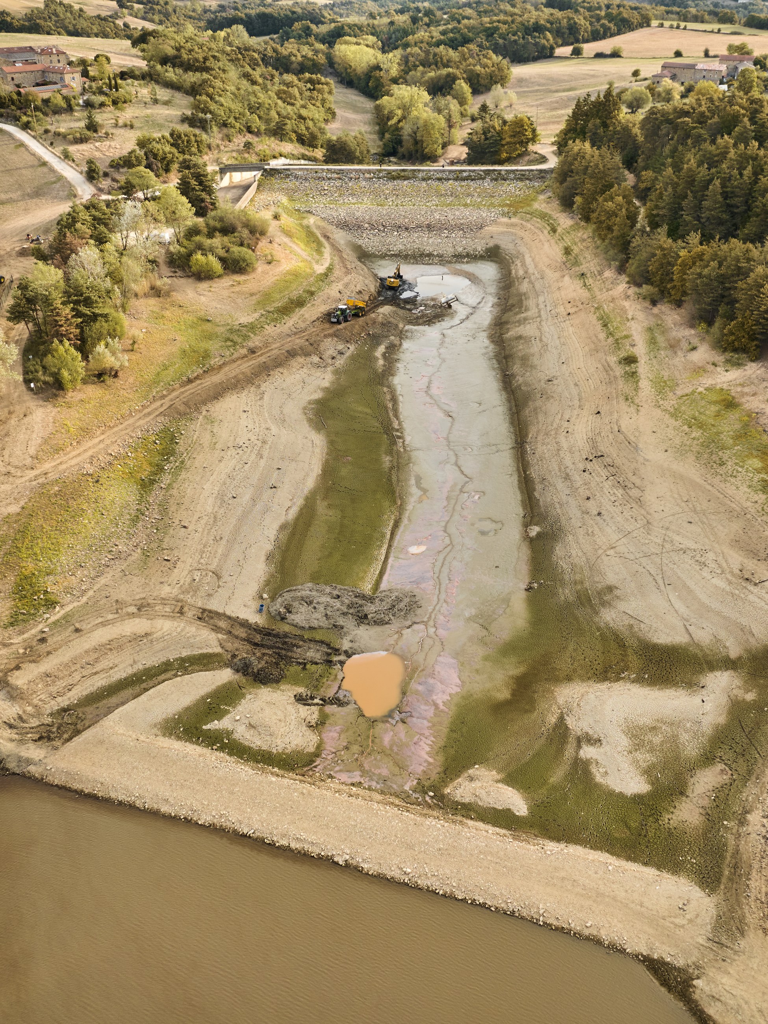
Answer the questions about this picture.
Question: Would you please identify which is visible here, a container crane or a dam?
dam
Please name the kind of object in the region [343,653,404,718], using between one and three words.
pond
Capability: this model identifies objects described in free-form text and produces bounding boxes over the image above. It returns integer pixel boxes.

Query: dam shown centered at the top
[240,165,563,263]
